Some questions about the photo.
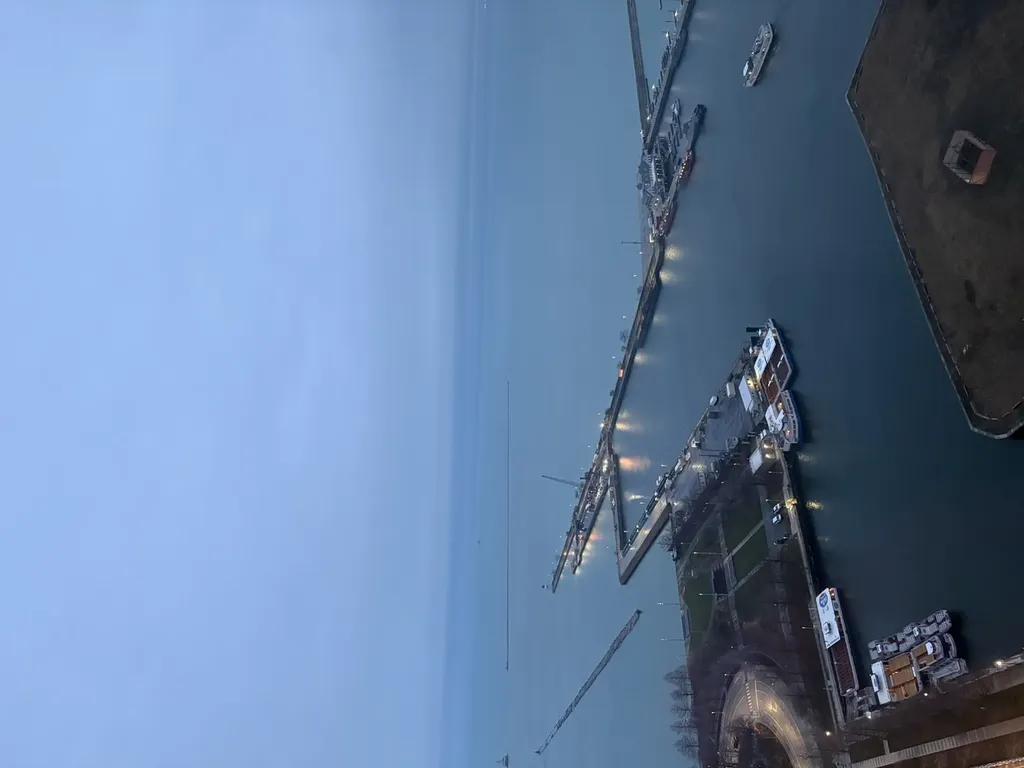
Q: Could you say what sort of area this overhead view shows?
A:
port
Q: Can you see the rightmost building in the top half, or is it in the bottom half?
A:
top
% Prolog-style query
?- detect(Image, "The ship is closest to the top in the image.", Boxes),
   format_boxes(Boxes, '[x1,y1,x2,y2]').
[738,22,773,89]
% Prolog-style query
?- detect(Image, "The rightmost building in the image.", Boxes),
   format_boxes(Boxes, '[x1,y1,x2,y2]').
[940,136,998,184]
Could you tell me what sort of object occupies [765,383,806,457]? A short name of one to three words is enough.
boat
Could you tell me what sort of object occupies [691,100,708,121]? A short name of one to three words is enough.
boat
